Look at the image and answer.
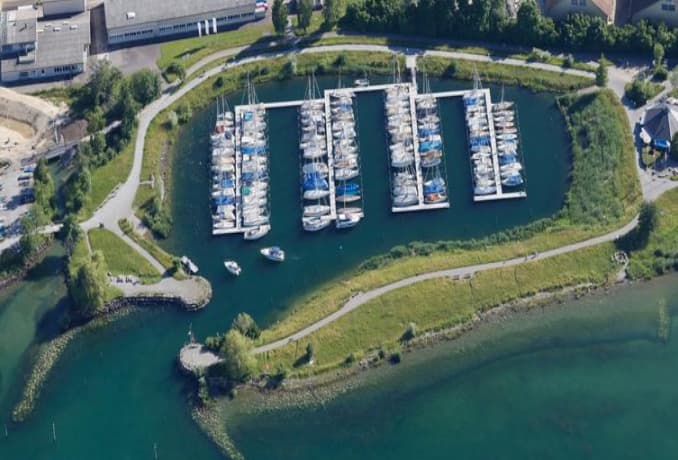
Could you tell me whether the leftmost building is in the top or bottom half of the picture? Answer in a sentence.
It is in the top half that the leftmost building appears.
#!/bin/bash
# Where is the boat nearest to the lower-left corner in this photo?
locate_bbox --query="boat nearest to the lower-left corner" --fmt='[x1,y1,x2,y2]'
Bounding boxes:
[181,255,199,274]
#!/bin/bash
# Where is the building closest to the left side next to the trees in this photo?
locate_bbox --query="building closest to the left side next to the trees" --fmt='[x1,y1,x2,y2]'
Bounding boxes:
[0,0,87,82]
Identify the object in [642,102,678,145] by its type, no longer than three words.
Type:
building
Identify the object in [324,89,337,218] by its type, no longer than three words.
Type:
pier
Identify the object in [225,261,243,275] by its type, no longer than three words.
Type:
boat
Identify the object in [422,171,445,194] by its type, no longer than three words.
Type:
boat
